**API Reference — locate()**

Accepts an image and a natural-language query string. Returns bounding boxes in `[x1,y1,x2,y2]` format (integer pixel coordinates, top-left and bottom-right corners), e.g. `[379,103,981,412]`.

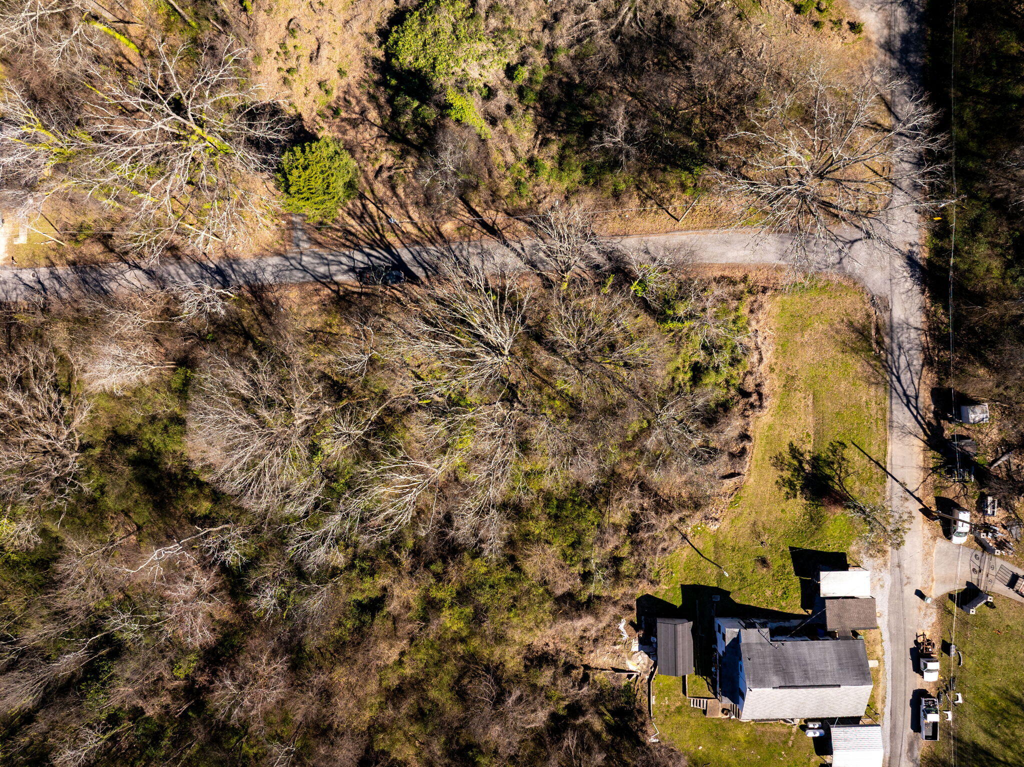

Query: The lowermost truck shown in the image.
[920,695,941,741]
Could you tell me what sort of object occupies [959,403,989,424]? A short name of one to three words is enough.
shed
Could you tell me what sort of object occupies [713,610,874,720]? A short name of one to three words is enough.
house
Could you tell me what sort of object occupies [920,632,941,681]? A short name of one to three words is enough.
truck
